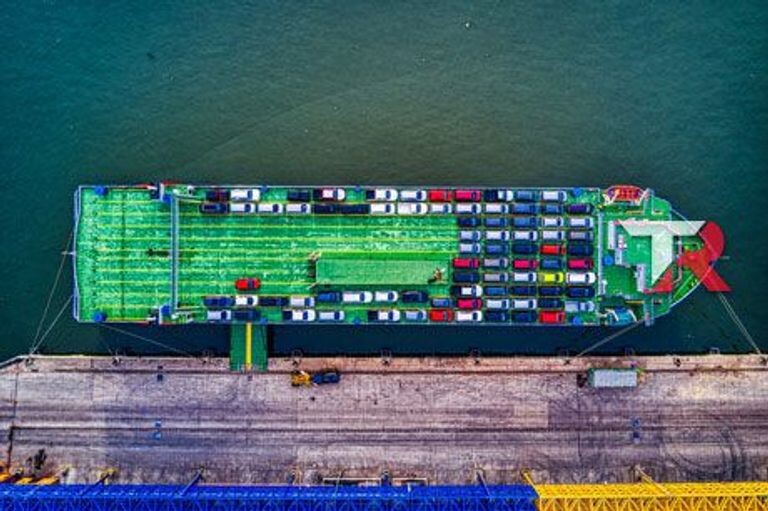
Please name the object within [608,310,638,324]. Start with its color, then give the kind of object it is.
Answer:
blue boat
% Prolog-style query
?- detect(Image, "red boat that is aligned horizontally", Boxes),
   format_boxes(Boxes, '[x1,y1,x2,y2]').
[605,185,645,202]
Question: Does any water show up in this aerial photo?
Yes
